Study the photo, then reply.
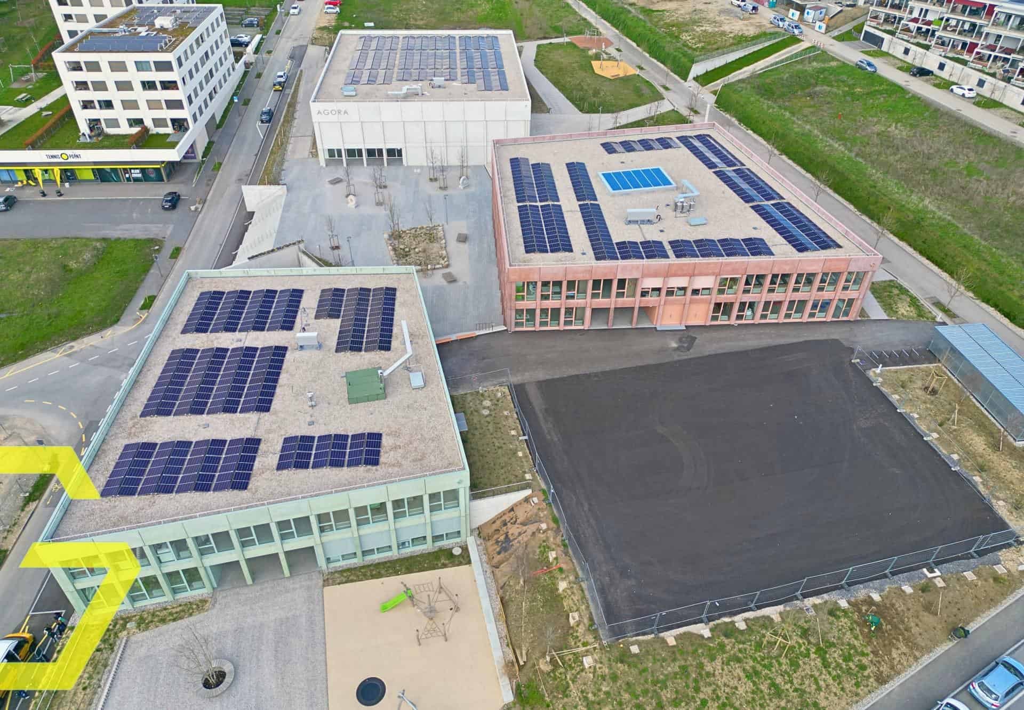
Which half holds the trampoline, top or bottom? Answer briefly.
bottom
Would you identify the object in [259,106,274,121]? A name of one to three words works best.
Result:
car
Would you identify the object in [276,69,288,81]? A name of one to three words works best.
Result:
vehicle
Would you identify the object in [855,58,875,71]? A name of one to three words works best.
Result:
vehicle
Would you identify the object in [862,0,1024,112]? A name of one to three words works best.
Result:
house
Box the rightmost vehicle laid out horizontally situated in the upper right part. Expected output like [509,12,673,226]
[951,86,976,98]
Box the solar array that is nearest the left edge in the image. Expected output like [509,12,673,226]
[73,37,168,52]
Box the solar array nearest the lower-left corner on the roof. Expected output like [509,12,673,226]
[100,437,262,499]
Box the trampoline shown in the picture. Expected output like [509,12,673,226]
[351,673,391,710]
